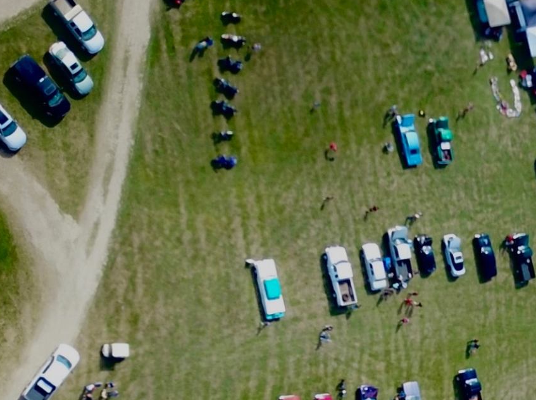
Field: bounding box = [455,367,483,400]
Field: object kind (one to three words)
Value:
truck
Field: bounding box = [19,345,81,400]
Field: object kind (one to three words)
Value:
truck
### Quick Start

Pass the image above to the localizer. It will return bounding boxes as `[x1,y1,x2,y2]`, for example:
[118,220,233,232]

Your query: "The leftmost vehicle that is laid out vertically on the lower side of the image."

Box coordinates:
[250,253,286,325]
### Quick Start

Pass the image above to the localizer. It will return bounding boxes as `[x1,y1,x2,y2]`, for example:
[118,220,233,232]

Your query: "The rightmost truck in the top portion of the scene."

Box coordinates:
[429,118,454,166]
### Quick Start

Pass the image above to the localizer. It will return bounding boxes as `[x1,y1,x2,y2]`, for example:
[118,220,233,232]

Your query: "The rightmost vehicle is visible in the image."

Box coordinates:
[511,235,536,287]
